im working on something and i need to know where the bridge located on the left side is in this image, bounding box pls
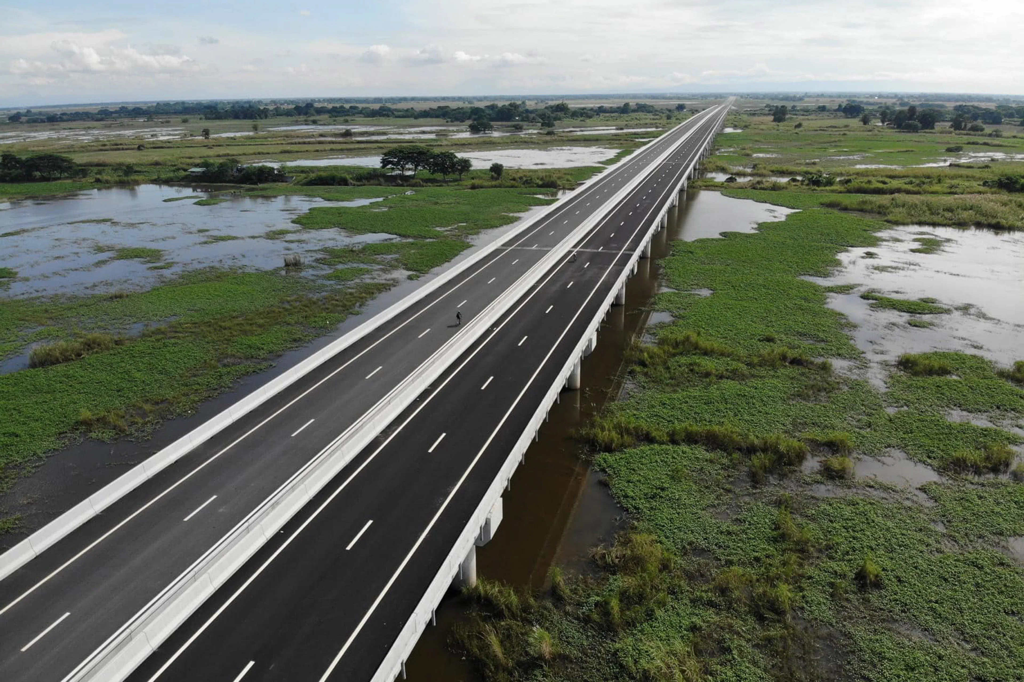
[0,111,725,682]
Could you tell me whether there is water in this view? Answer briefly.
Yes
